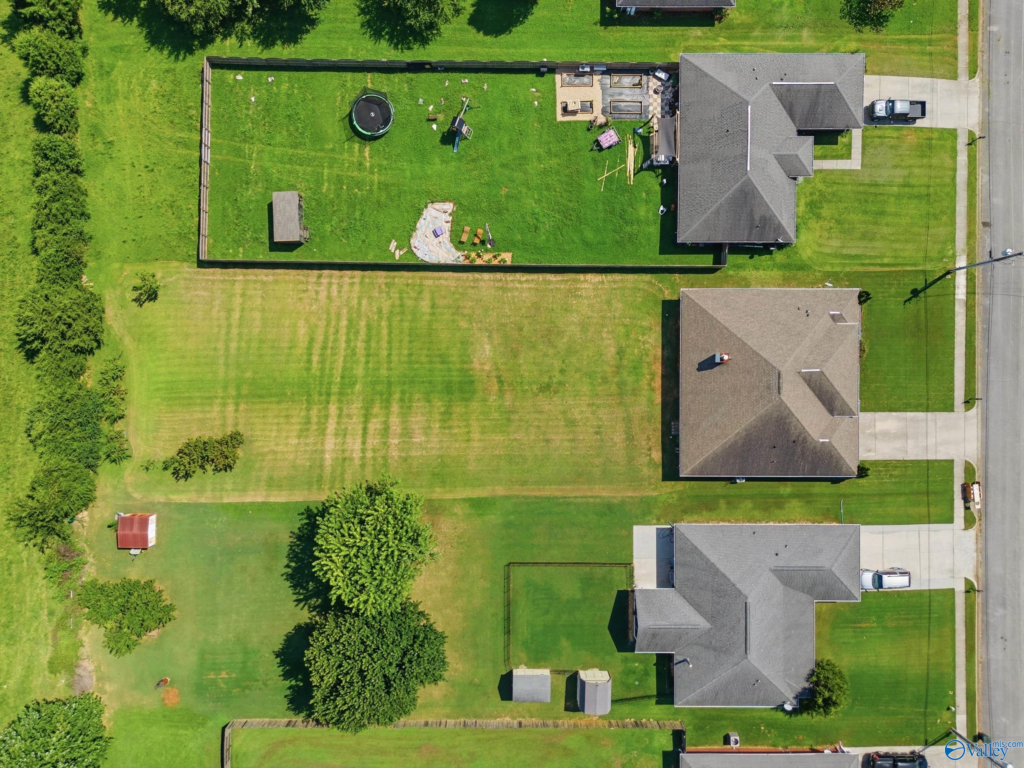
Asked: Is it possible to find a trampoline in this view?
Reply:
Yes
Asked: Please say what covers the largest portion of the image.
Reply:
grass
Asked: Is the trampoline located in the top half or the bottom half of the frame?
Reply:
top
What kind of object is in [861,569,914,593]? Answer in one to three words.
car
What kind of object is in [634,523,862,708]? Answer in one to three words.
house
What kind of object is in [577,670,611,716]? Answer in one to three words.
shed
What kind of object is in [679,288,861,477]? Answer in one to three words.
house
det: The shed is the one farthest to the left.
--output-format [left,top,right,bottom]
[117,513,157,548]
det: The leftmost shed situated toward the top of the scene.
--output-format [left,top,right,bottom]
[273,191,304,243]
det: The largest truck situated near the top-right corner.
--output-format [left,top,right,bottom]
[871,95,928,123]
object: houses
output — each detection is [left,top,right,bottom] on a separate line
[679,288,861,477]
[679,749,859,768]
[615,0,736,12]
[676,53,866,243]
[634,523,862,708]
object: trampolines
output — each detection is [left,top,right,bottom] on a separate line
[342,83,396,138]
